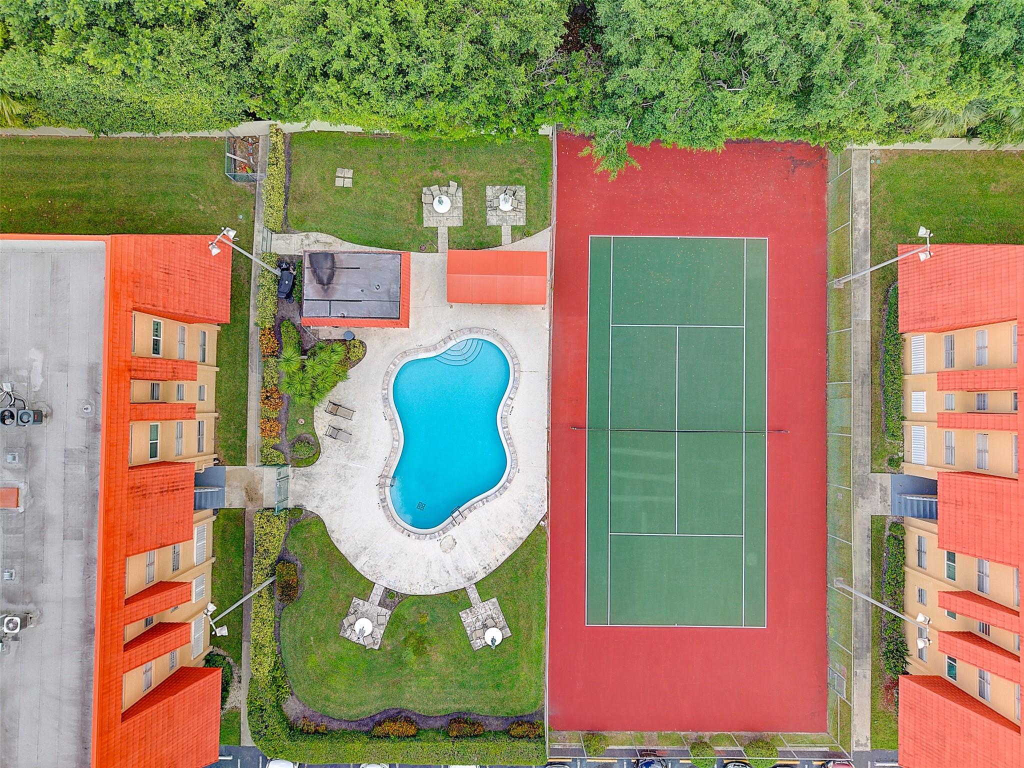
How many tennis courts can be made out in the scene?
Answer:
one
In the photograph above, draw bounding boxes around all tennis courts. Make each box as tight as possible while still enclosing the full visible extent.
[551,131,828,732]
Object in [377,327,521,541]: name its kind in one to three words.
swimming pool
